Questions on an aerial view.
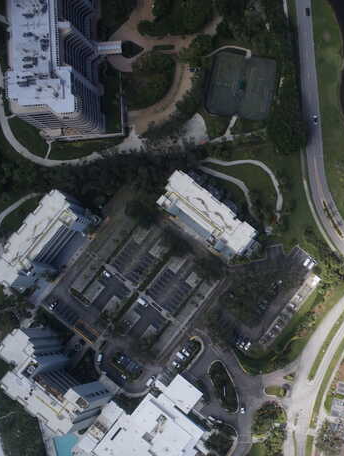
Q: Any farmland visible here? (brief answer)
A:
No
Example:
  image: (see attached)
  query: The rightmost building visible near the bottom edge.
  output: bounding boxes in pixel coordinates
[77,371,209,456]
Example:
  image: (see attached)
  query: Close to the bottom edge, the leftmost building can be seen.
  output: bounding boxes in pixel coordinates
[0,323,115,435]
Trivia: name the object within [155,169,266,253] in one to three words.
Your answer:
building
